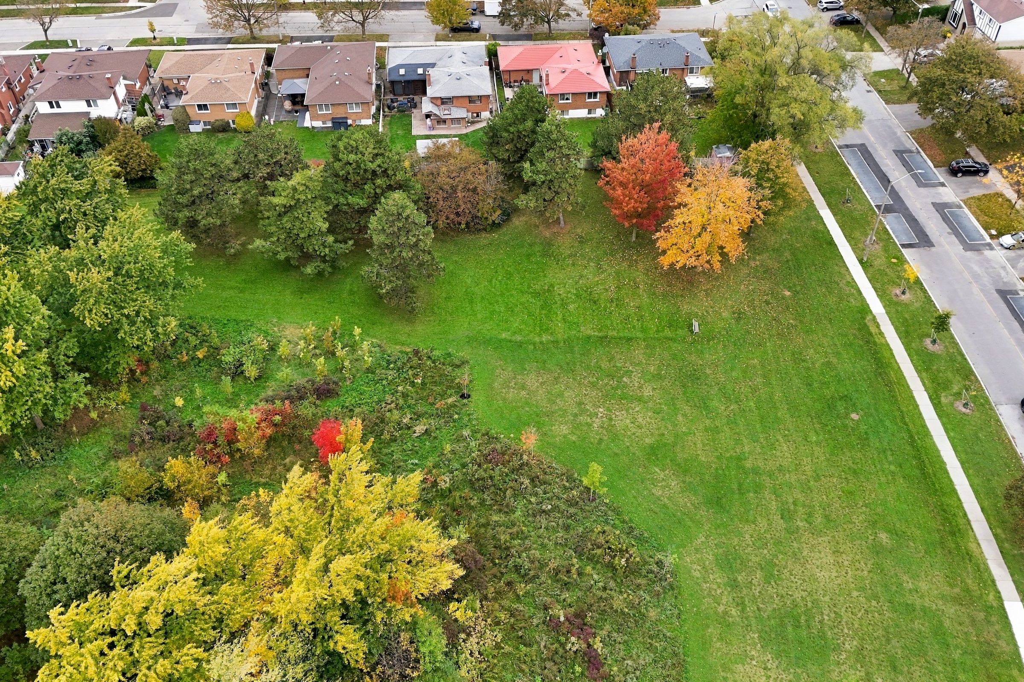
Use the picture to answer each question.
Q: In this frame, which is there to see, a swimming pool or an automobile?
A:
automobile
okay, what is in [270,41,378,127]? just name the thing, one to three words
house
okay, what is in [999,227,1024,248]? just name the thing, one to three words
car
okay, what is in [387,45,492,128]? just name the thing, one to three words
house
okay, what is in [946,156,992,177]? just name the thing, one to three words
car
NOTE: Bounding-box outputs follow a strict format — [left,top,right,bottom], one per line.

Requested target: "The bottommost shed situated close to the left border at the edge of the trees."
[0,160,30,192]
